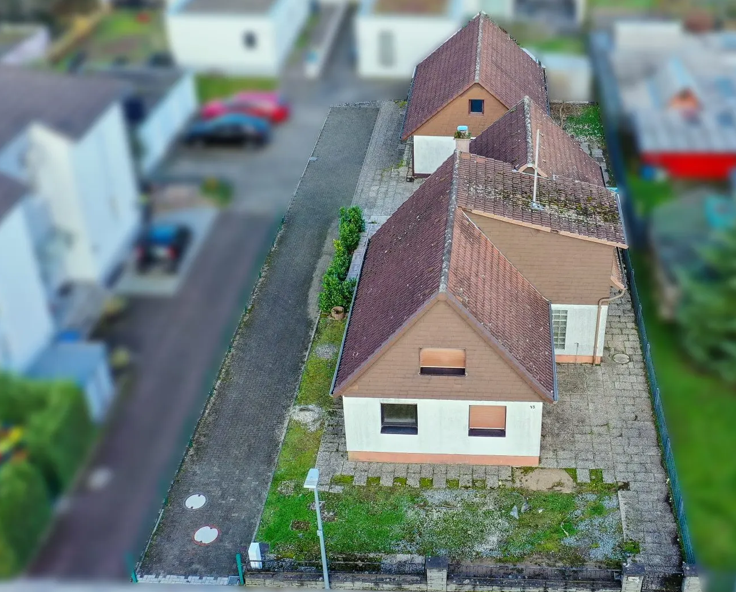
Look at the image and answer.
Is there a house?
Yes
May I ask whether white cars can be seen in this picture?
No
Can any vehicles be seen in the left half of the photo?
Yes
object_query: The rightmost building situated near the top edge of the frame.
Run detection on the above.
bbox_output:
[614,3,736,191]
